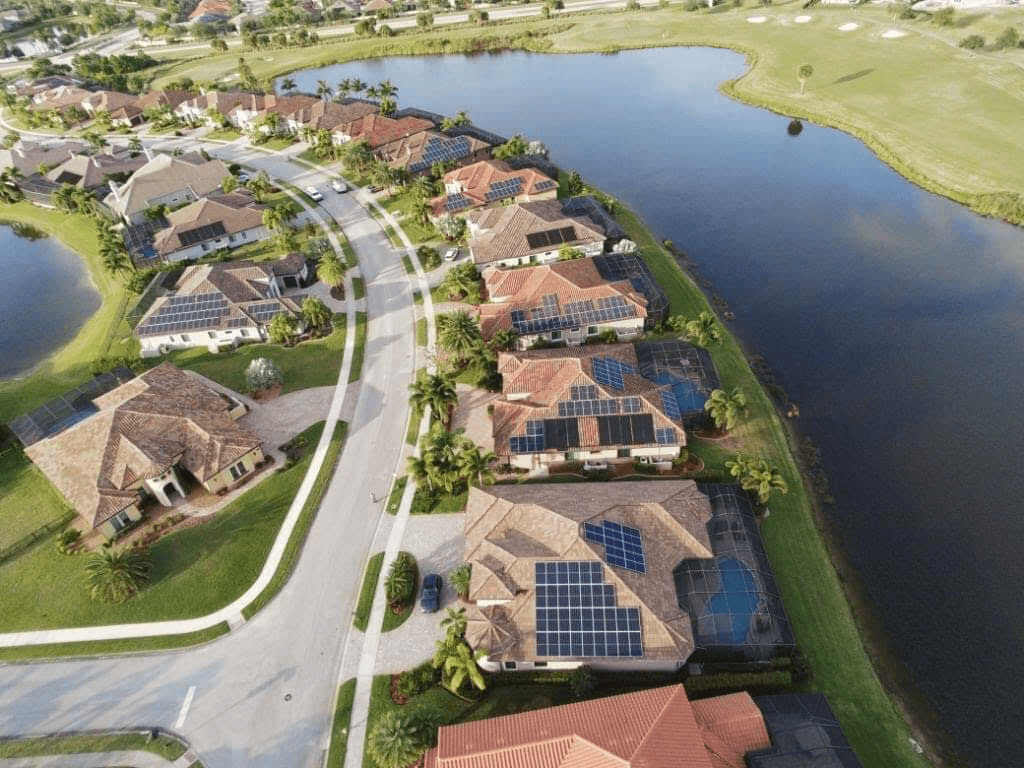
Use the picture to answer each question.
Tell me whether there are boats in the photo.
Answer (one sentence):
No, no boat is visible in the view.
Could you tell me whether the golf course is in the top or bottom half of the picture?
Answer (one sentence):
The golf course is in the top half of the image.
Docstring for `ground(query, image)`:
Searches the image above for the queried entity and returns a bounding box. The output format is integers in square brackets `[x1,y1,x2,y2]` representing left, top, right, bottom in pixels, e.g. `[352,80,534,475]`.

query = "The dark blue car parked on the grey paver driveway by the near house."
[418,568,442,611]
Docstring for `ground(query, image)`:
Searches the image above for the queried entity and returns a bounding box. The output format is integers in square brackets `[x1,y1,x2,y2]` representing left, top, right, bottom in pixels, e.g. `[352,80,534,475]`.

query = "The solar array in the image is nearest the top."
[420,134,467,167]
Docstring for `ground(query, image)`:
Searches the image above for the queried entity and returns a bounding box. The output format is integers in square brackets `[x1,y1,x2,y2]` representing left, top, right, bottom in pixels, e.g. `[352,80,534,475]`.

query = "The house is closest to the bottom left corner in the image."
[20,361,269,539]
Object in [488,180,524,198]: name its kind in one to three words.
solar array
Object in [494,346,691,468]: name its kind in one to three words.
house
